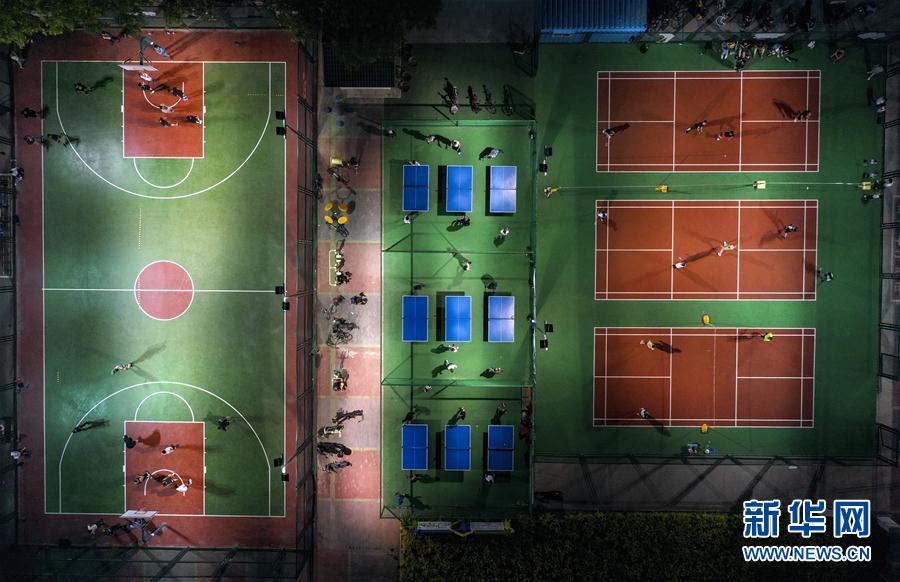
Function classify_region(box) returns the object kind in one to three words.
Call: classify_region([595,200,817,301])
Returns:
sports court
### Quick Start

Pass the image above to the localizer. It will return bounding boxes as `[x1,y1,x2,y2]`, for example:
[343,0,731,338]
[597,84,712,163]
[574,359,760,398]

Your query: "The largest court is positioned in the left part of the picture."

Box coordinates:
[19,31,314,546]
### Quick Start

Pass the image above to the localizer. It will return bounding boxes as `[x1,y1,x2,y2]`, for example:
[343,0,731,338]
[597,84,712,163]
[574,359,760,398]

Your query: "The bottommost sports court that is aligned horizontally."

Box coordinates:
[593,327,815,428]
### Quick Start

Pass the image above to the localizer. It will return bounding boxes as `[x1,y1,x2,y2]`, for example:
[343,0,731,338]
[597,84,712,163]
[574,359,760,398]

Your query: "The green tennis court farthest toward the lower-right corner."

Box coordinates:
[381,121,534,517]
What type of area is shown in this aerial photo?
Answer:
sports ground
